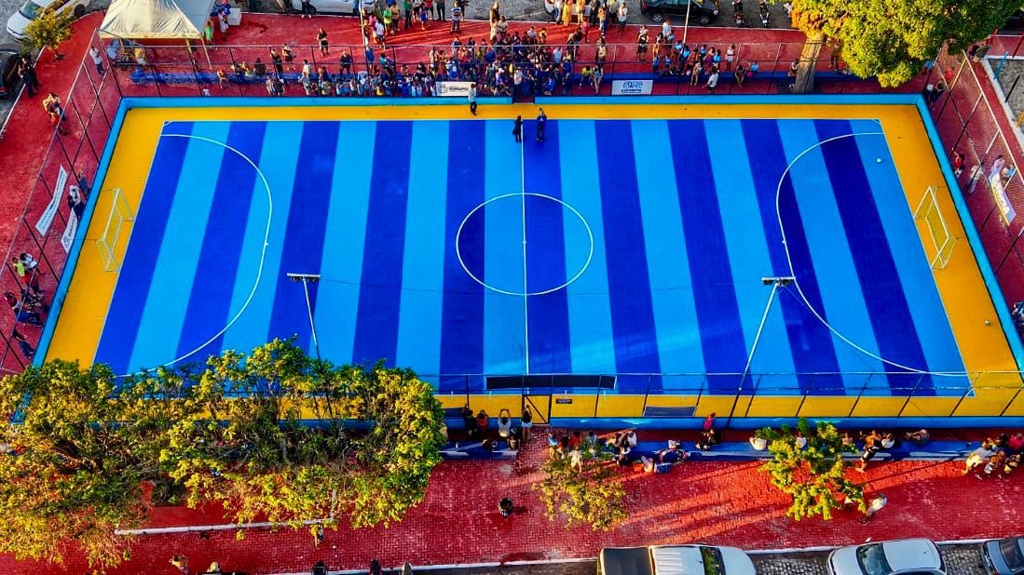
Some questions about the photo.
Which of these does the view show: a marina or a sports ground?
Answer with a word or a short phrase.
sports ground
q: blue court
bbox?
[26,104,1024,425]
